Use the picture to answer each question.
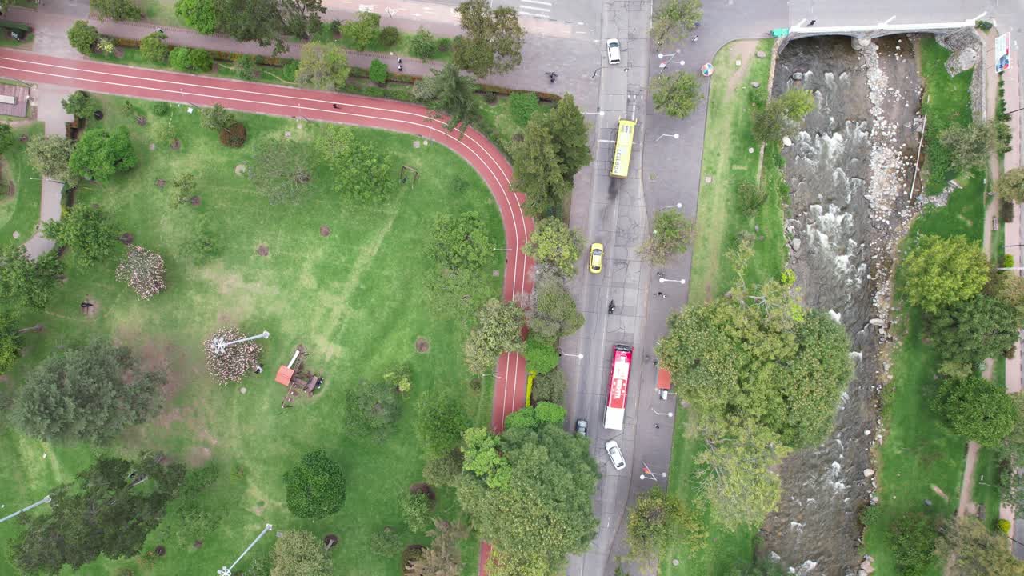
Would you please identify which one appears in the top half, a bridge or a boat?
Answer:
bridge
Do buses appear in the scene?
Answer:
Yes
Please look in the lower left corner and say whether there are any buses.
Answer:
No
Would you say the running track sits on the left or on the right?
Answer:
left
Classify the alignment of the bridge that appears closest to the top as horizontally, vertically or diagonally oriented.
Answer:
horizontally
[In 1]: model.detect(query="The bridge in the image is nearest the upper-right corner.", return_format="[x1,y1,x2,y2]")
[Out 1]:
[776,10,998,49]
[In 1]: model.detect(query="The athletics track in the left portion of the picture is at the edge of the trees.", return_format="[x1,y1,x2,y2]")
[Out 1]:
[0,48,534,576]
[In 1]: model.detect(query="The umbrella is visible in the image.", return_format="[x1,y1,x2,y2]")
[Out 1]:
[700,62,714,76]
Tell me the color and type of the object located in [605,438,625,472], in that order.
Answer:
white car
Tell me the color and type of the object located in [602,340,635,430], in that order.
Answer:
white bus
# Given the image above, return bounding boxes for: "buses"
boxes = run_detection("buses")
[608,117,637,181]
[602,340,635,430]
